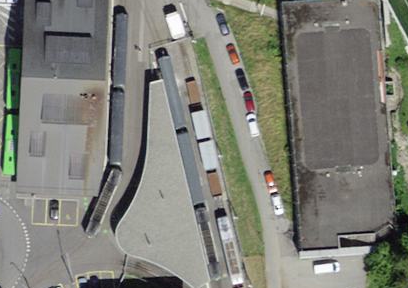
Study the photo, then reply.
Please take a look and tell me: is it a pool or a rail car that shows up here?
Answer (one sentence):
There is a rail car in the scene.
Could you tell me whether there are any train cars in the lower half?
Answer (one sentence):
Yes, the scene does show a train car in the lower half.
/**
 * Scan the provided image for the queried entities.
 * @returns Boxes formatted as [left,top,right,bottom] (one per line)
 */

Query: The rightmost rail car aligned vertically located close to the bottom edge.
[216,217,244,286]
